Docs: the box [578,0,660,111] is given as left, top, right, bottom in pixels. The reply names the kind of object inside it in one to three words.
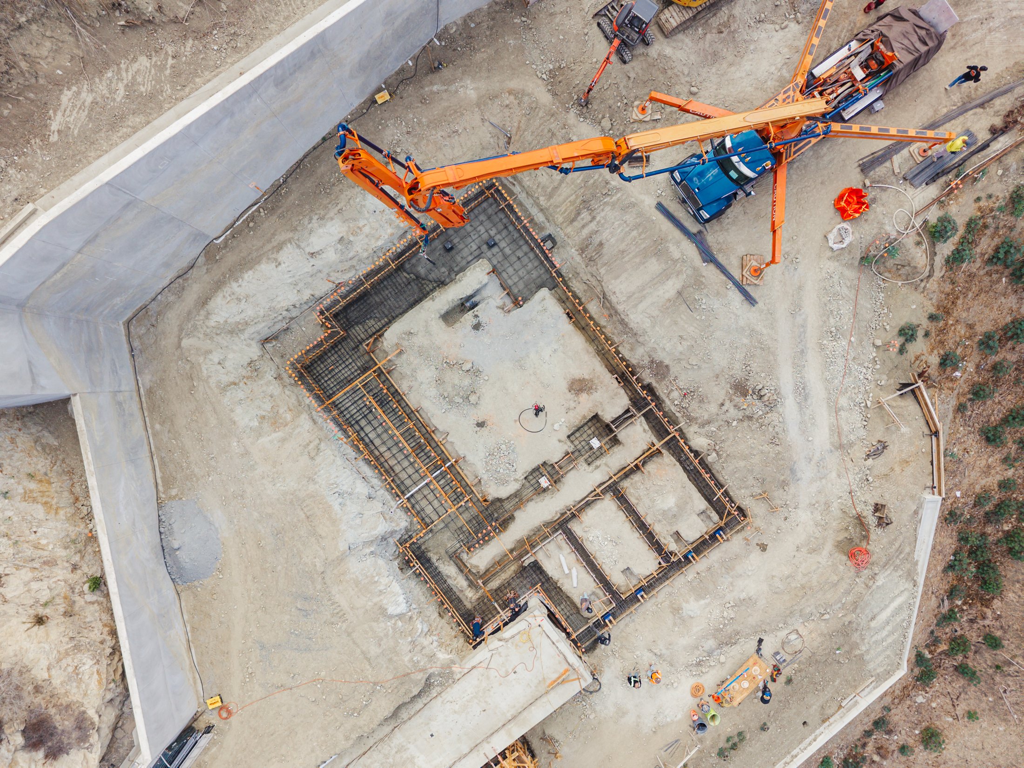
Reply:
work vehicle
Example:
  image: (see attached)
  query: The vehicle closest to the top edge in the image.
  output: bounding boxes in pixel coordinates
[653,0,735,42]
